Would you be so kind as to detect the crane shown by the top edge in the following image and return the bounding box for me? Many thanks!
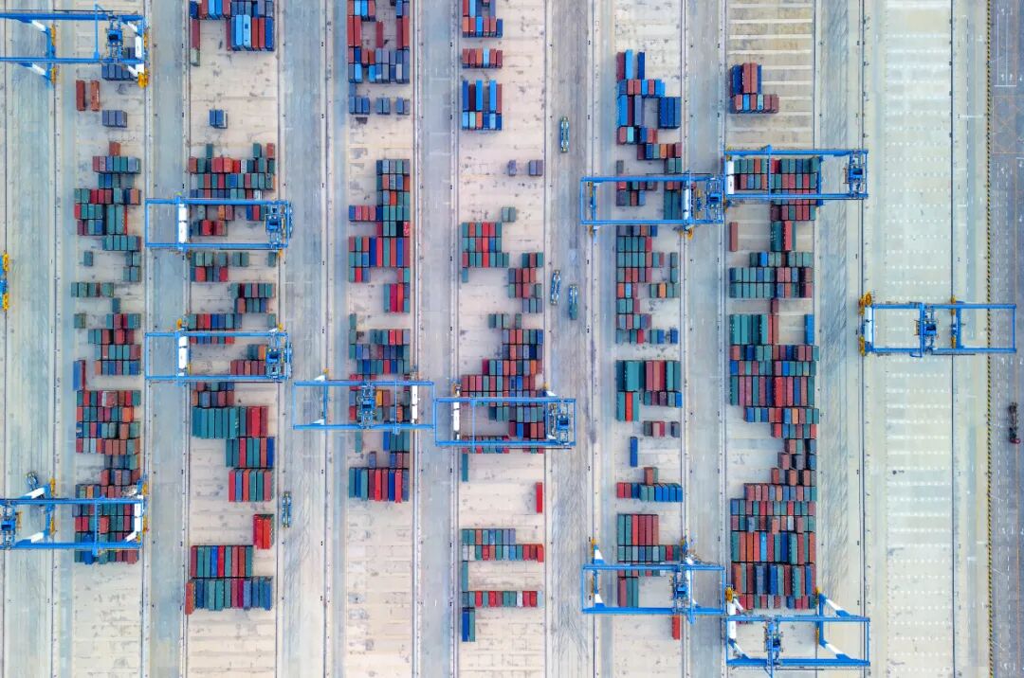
[0,2,149,95]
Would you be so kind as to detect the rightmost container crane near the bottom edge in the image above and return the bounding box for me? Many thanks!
[724,584,868,678]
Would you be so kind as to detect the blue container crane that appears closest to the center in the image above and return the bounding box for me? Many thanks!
[434,386,576,449]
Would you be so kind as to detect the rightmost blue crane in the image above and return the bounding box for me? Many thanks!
[861,291,1017,358]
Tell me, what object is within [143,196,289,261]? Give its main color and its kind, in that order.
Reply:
blue container crane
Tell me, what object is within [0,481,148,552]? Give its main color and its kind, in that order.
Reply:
blue container crane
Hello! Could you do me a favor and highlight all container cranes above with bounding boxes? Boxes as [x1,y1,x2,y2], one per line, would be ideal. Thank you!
[143,325,294,384]
[434,386,576,449]
[0,481,148,552]
[723,144,867,215]
[581,541,724,623]
[293,371,435,433]
[0,2,149,95]
[724,584,868,678]
[861,291,1017,358]
[581,171,724,247]
[143,196,289,261]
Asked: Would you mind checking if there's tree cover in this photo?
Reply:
No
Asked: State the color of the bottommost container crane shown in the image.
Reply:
blue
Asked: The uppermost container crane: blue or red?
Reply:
blue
